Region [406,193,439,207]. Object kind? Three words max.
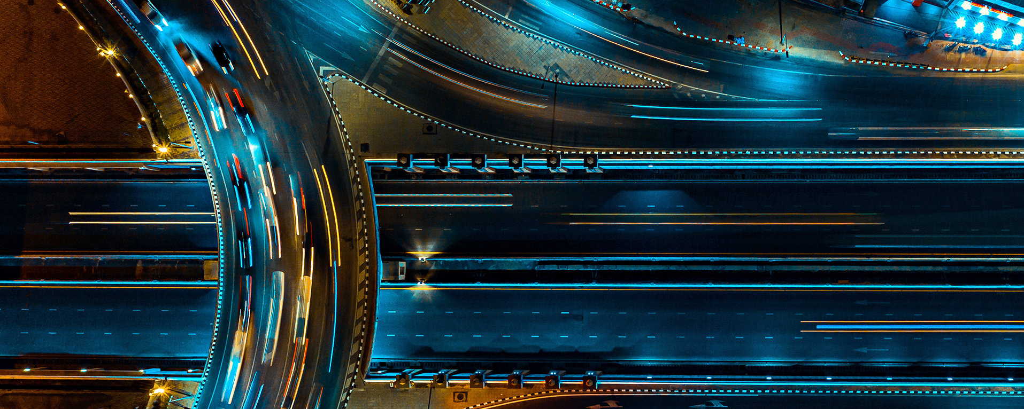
car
